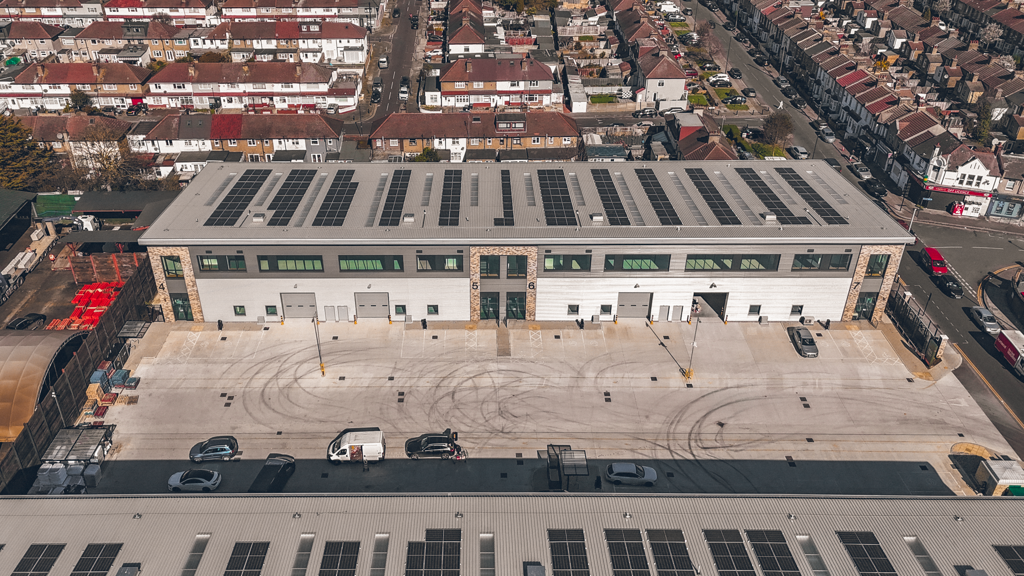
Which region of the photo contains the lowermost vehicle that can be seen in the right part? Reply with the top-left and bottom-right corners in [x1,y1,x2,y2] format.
[605,464,659,489]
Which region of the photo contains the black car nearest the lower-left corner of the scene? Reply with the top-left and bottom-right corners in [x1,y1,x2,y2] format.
[166,470,221,494]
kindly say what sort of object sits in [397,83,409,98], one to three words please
vehicle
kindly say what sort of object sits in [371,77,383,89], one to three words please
vehicle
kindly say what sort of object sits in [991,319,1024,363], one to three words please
truck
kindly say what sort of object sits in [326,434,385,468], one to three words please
van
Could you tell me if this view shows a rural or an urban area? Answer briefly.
urban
